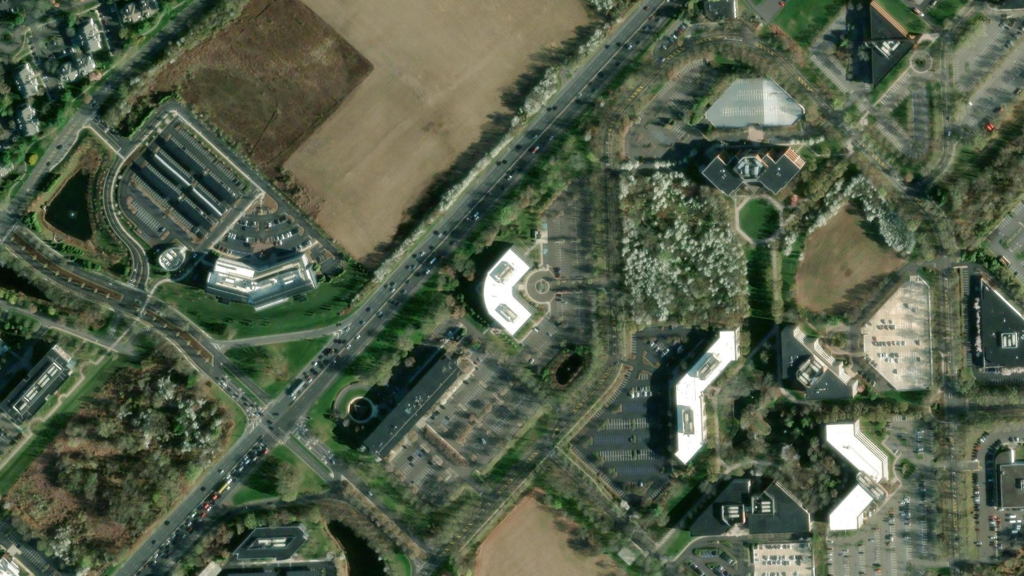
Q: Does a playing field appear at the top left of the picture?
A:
No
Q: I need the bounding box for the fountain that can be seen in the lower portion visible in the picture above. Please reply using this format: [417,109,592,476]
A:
[347,398,371,421]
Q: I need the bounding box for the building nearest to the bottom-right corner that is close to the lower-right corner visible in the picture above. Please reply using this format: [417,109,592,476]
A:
[995,445,1024,508]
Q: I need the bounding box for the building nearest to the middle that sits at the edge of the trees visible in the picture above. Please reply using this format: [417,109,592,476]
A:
[484,243,539,336]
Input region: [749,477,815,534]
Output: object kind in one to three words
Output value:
building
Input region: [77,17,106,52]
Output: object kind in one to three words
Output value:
house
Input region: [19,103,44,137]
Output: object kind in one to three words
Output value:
house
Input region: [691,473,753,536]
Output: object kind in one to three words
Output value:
building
